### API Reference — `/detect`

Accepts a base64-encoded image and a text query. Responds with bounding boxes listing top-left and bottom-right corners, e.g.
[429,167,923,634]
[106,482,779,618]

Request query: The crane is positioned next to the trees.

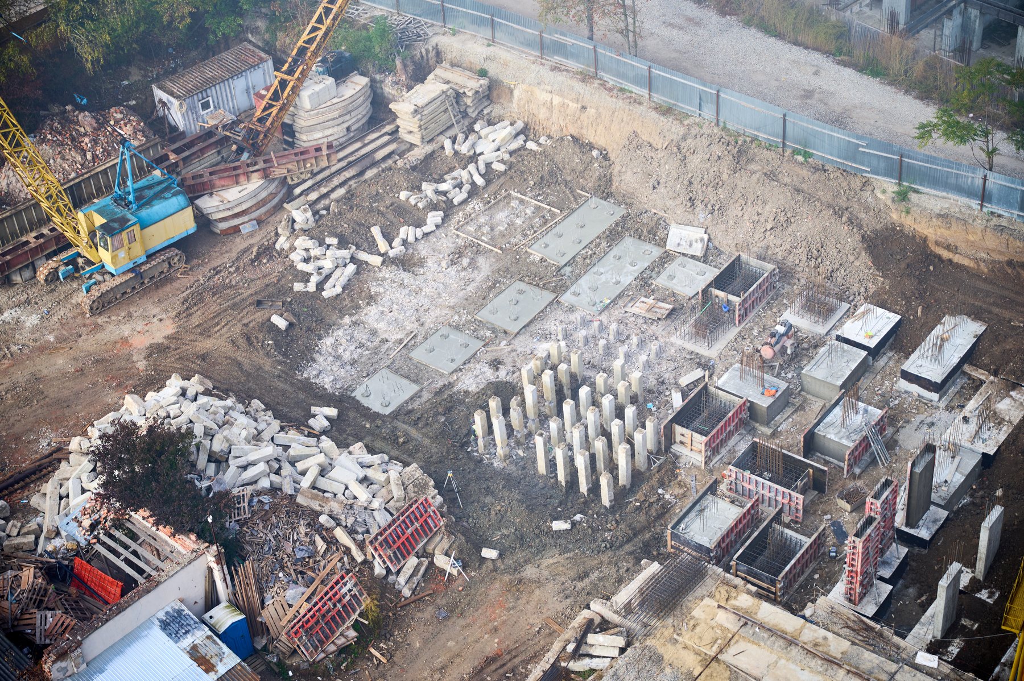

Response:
[0,32,199,314]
